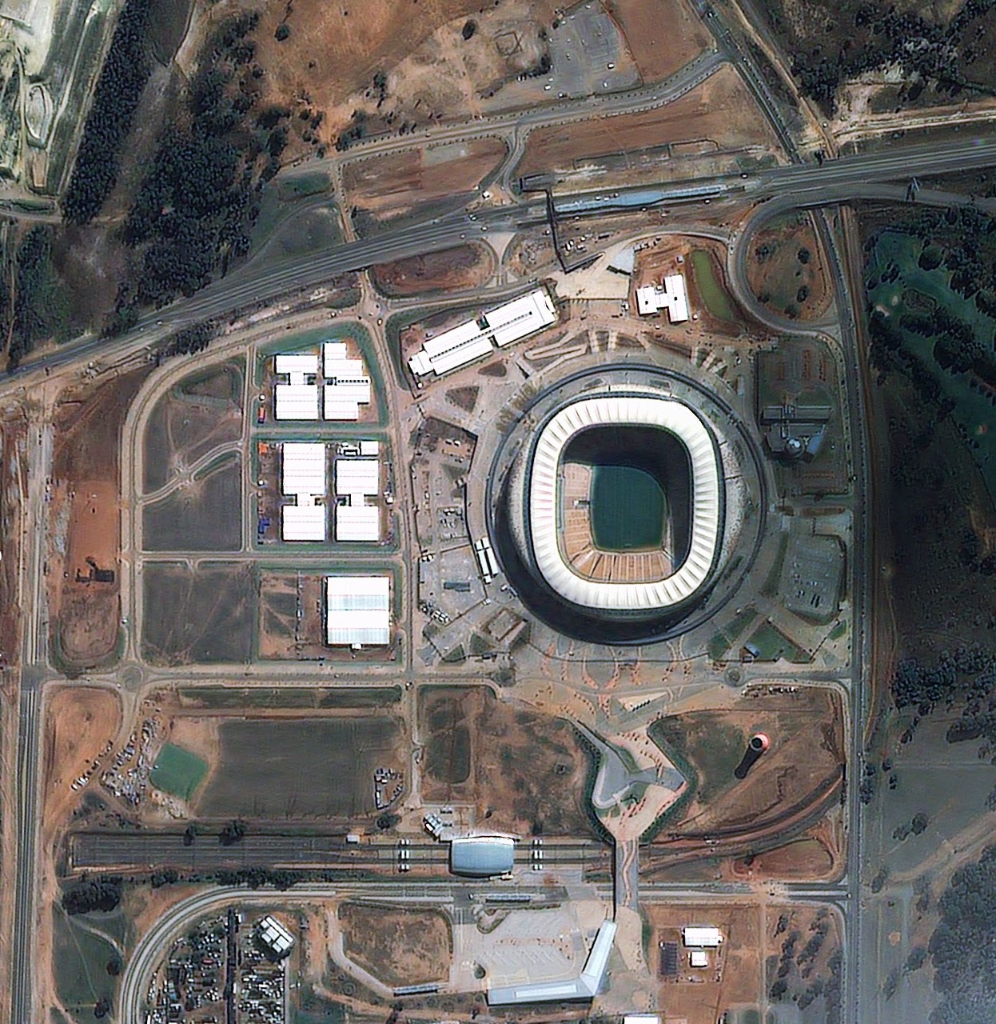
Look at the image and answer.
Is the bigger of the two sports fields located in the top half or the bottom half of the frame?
bottom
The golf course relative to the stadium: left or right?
right of it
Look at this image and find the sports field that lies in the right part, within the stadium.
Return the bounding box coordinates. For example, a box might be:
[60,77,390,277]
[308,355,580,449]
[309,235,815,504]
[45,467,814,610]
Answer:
[592,453,666,552]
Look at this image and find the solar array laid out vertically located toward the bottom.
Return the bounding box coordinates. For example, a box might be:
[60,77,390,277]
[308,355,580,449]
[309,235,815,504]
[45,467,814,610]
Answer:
[662,945,677,977]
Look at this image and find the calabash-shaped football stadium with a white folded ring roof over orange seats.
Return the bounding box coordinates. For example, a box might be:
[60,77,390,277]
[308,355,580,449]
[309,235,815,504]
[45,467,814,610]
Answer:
[509,383,746,621]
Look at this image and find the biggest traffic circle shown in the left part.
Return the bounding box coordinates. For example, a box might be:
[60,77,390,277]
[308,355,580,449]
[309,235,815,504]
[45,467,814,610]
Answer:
[117,662,147,692]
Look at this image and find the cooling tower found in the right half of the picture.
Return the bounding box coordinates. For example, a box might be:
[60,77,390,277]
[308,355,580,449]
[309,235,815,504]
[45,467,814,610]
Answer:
[751,732,771,752]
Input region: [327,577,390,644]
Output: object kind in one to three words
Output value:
building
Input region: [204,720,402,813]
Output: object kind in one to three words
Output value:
sports field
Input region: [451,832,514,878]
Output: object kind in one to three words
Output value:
train station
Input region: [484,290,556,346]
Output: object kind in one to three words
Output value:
building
